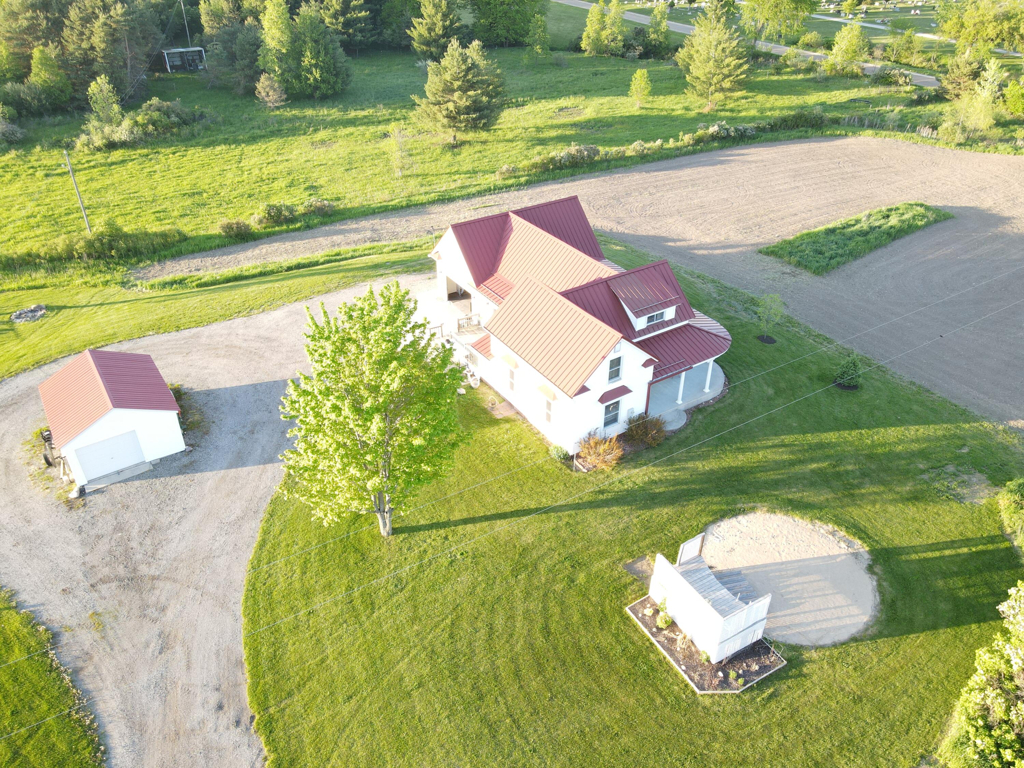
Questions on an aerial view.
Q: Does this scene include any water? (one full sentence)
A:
No, water can't be seen anywhere here.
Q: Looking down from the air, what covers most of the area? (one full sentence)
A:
The largest share of the image is taken up by grass.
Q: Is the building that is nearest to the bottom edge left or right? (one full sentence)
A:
The building that is nearest to the bottom edge is on the left side of the image.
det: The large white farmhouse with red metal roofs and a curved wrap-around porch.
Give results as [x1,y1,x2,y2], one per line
[412,195,733,459]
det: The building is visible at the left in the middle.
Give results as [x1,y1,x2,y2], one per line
[37,348,185,493]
